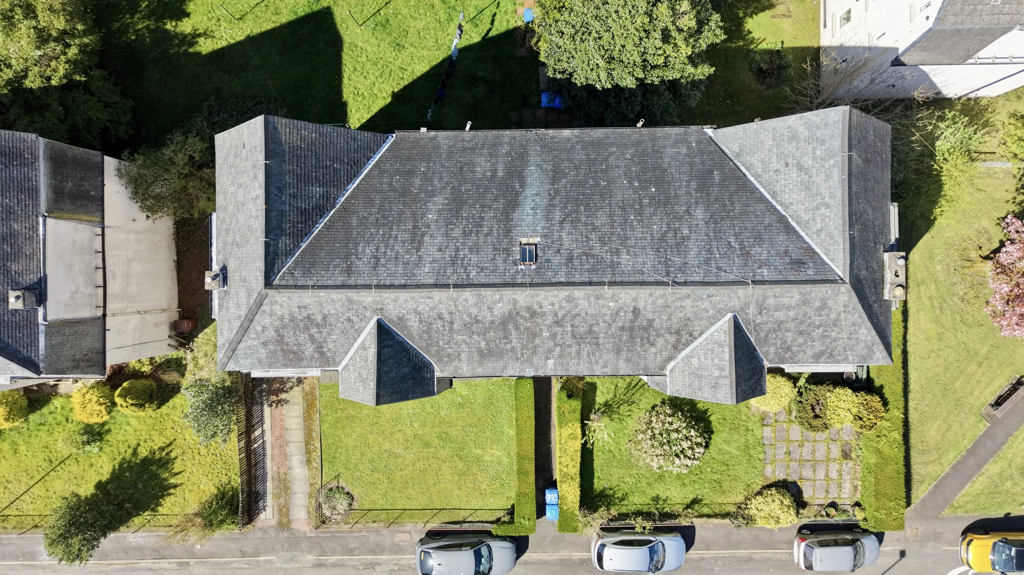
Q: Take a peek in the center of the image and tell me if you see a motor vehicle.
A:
No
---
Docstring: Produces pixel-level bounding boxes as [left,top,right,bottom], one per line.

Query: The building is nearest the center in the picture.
[205,106,905,405]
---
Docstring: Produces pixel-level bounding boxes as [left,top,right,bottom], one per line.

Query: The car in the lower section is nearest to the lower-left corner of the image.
[416,532,517,575]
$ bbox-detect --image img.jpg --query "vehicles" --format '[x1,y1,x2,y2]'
[416,532,517,575]
[791,527,877,575]
[955,528,1024,575]
[591,526,685,575]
